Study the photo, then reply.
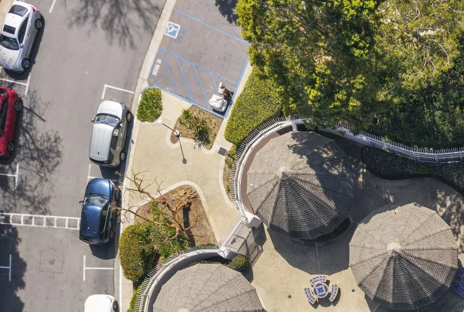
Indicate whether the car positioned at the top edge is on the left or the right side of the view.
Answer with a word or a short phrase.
left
